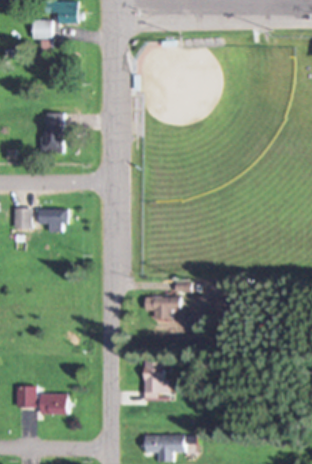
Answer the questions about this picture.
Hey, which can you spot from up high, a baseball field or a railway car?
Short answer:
baseball field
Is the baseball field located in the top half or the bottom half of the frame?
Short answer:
top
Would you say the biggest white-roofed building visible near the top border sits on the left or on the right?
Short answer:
left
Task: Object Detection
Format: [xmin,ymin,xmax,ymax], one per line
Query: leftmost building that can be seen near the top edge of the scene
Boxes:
[30,20,56,40]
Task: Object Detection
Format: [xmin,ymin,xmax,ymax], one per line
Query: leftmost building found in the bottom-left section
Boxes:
[16,386,38,408]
